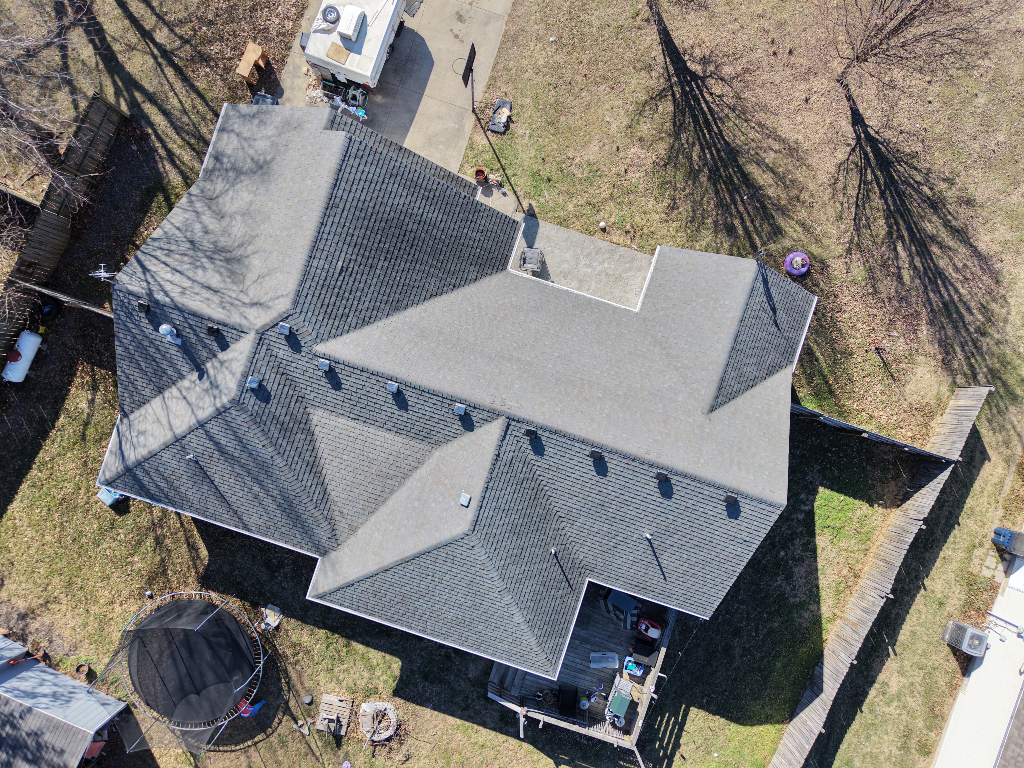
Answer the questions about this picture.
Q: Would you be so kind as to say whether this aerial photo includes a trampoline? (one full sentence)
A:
Yes, there's a trampoline here.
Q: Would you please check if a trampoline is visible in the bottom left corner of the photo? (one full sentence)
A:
Yes, a trampoline can be seen in the bottom left corner of the photo.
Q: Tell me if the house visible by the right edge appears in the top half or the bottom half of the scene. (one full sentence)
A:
The house visible by the right edge is in the bottom half of the image.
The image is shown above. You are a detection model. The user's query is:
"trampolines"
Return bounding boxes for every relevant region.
[86,588,273,755]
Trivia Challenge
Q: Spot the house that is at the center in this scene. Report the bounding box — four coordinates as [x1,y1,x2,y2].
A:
[96,103,818,680]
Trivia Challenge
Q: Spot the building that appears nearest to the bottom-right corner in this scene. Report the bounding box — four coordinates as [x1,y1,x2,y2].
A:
[926,582,1024,768]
